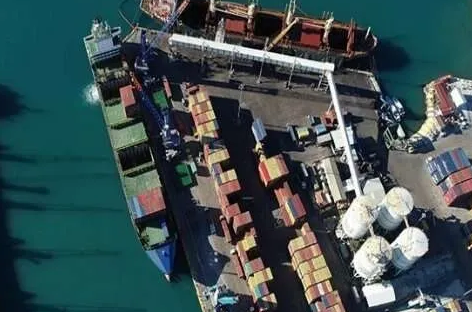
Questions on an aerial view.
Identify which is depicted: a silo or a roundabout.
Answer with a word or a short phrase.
silo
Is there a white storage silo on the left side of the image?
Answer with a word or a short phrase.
No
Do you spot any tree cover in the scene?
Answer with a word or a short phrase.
No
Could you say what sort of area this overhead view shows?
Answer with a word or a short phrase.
port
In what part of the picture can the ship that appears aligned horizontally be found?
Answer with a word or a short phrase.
top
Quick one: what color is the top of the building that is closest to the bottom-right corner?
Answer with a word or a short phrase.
white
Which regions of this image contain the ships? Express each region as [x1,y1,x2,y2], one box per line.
[87,23,199,293]
[126,0,379,77]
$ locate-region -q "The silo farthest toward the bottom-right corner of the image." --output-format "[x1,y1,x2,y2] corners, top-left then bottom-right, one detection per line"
[389,227,431,270]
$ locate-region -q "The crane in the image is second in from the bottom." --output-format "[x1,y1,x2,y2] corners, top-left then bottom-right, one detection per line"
[128,69,187,160]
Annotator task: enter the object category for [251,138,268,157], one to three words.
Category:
work vehicle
